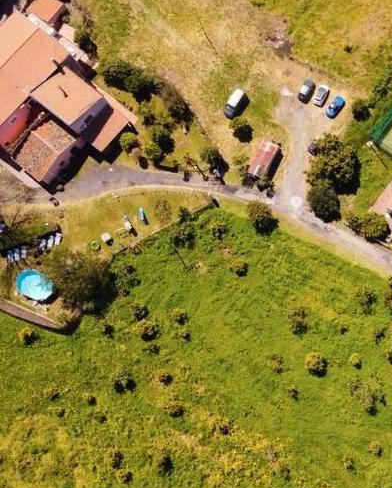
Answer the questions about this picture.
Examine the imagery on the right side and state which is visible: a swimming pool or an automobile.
automobile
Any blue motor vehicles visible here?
Yes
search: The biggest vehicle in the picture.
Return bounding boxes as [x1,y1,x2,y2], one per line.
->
[224,87,247,119]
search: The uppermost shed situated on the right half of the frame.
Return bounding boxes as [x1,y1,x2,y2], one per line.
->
[247,142,279,179]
